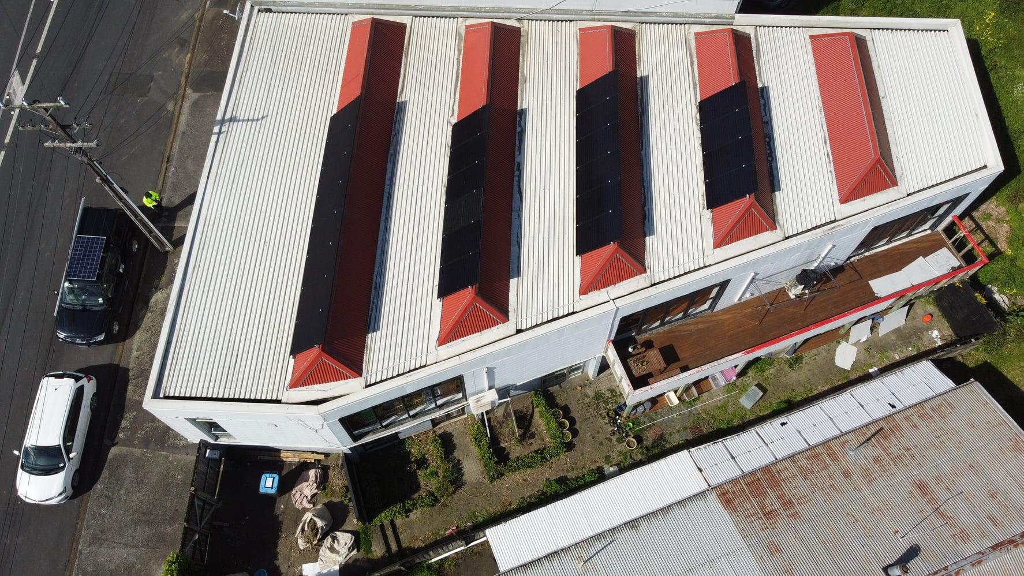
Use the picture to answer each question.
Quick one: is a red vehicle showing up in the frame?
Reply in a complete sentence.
No, no red vehicle can be seen from above.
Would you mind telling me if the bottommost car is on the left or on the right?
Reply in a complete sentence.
It is on the left.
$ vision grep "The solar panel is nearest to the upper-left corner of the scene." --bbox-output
[66,239,106,282]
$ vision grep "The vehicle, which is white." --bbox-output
[8,371,99,508]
